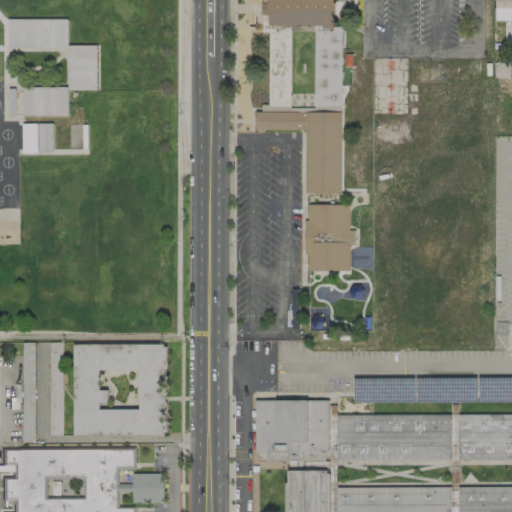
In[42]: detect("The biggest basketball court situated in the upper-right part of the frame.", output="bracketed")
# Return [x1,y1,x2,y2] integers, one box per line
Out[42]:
[374,58,408,114]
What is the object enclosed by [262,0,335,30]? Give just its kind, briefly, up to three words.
building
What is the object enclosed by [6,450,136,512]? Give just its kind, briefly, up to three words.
building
